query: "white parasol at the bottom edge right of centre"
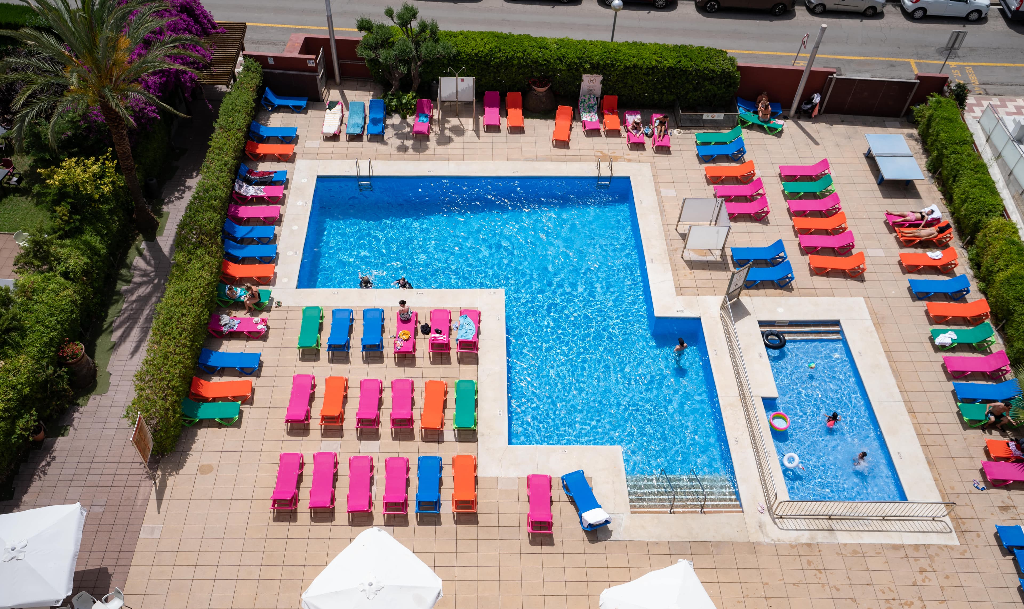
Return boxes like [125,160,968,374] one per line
[595,556,718,609]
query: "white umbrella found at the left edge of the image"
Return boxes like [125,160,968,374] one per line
[0,500,86,609]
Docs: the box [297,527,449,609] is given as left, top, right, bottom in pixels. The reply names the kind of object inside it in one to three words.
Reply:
umbrella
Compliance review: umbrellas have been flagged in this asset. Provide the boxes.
[0,500,86,609]
[297,527,449,609]
[595,556,718,609]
